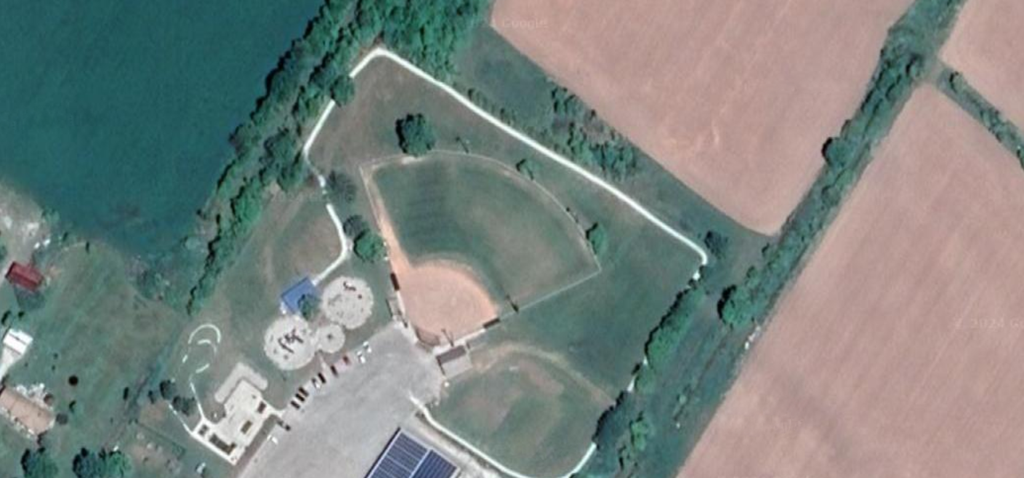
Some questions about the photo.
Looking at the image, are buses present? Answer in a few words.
No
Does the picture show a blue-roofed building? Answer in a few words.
Yes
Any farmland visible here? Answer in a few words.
Yes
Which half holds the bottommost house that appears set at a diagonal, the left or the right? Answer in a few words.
left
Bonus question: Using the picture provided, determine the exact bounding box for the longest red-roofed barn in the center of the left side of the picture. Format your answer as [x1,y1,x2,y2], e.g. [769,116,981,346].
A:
[6,261,43,293]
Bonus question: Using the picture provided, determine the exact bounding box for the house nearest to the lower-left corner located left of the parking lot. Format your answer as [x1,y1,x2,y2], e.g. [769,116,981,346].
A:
[0,385,55,434]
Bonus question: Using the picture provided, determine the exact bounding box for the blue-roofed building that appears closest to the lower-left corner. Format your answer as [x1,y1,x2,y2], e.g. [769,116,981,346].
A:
[281,277,320,315]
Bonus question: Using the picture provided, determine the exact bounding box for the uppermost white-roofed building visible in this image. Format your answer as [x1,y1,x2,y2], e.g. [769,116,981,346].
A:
[2,329,32,356]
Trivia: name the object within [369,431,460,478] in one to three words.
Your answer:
building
